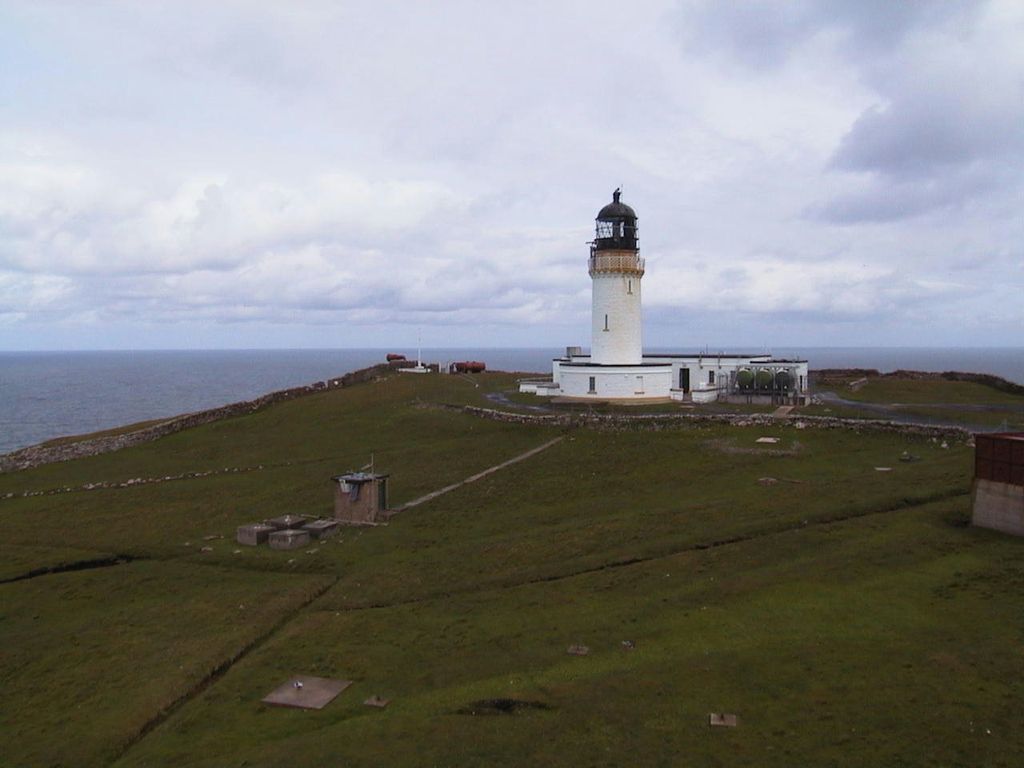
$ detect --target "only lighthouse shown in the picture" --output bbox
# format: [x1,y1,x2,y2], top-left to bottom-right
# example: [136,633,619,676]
[586,188,646,364]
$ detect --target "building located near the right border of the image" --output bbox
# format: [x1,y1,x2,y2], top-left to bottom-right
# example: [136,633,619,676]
[973,433,1024,536]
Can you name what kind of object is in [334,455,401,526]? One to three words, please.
shed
